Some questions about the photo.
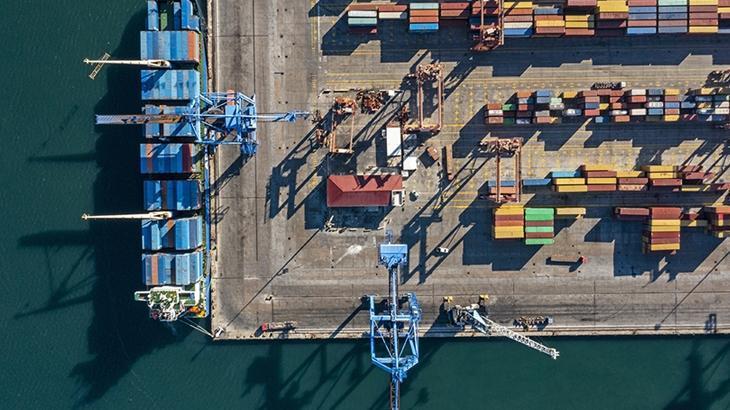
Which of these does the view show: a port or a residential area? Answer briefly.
port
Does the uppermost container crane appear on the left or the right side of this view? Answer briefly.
right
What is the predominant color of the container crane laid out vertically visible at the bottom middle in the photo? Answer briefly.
blue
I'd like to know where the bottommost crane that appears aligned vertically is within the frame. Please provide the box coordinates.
[362,224,423,410]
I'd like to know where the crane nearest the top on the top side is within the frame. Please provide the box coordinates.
[453,0,505,56]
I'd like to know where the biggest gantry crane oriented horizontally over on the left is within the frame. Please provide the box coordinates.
[95,86,303,156]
